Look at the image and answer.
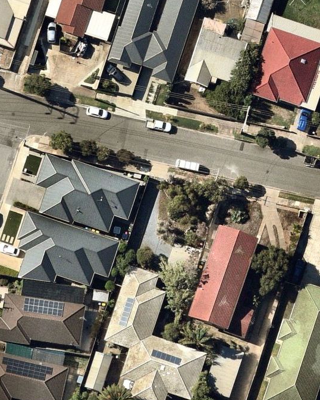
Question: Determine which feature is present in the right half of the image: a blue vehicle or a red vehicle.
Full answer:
Looking in the right half of the image, you will find a blue vehicle.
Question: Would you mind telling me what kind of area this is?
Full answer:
What you see here is a residential area.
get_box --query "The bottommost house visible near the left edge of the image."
[0,351,70,400]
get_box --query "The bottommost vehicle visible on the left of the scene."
[0,241,21,257]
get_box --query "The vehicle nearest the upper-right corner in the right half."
[295,108,312,133]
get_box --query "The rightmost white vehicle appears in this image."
[174,158,201,172]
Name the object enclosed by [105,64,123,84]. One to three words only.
car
